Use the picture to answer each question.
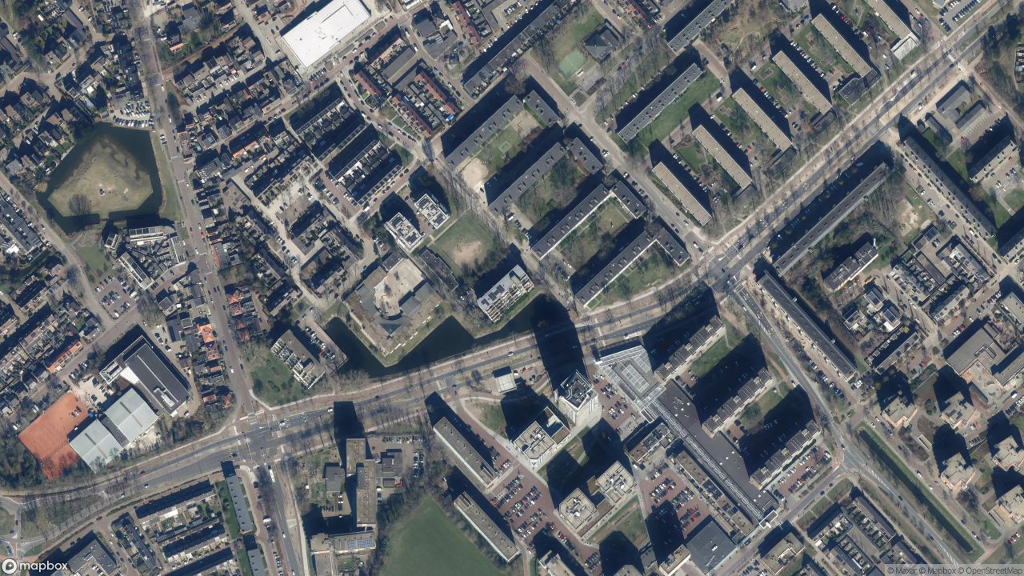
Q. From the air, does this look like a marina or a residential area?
residential area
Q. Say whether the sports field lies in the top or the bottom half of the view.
bottom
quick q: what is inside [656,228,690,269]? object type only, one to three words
building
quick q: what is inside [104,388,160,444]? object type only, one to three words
building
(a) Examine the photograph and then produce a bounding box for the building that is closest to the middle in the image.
[477,264,534,327]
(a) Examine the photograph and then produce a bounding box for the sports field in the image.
[379,495,515,576]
